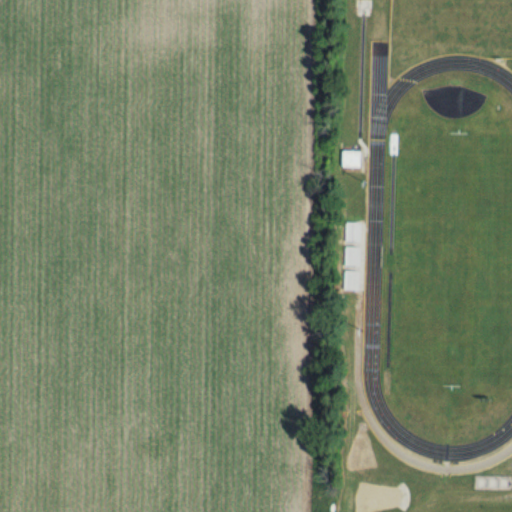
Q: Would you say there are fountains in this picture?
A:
No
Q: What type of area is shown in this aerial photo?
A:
farmland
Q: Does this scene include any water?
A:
No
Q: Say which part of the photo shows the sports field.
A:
right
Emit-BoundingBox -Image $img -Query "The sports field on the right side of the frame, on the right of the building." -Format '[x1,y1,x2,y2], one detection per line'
[380,71,512,446]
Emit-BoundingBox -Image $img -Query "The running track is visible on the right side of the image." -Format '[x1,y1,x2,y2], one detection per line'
[365,41,512,460]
